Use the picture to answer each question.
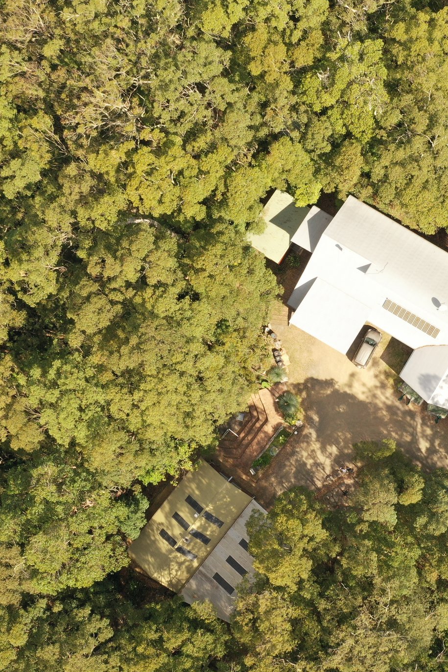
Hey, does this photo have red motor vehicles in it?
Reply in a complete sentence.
No, the frame has no red motor vehicle in it.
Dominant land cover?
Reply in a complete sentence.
For the most part, this view shows trees.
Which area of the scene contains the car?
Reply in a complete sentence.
The car sits in the right section of the image.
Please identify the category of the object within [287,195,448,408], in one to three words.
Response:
house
